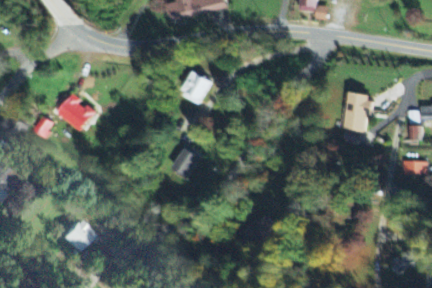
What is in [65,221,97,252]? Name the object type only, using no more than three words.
house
